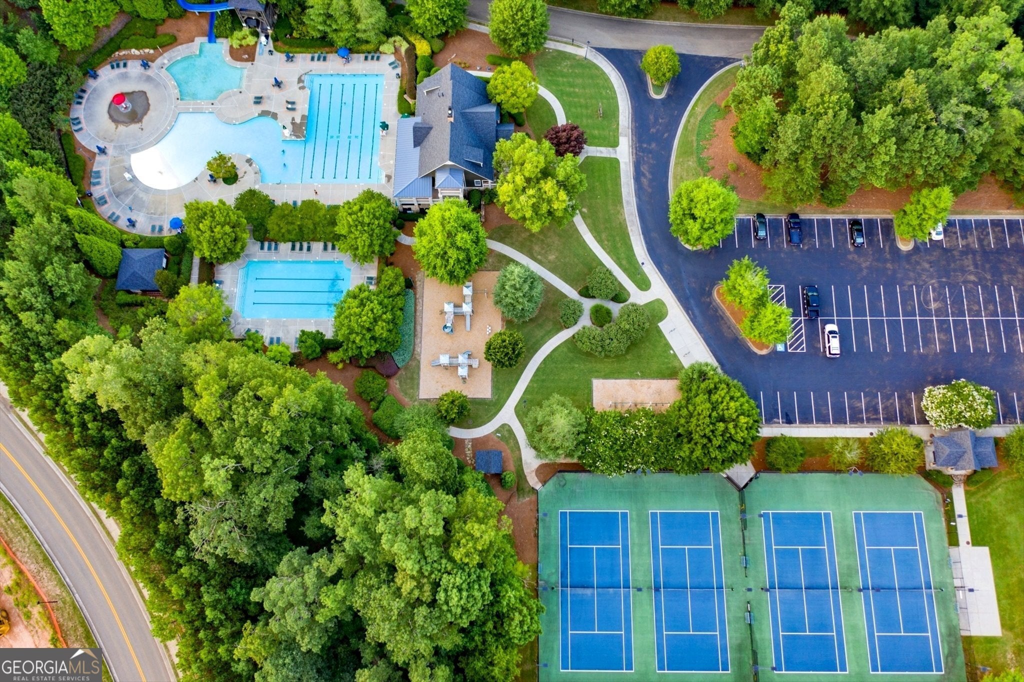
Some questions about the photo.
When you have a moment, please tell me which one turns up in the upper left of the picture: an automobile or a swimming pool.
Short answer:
swimming pool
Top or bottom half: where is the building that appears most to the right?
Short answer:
bottom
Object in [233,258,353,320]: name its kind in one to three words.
swimming pool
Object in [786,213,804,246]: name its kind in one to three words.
vehicle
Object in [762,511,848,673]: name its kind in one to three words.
tennis court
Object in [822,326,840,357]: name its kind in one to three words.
car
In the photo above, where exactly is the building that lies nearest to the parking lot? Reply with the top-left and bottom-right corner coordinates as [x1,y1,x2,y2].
[927,431,998,471]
